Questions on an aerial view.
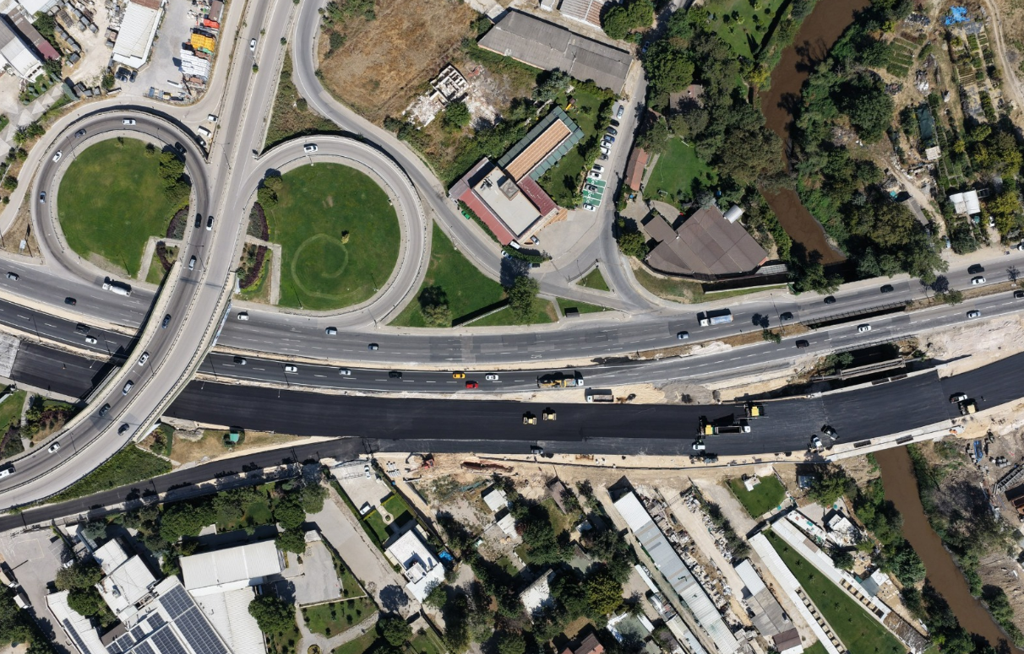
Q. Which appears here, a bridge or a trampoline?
bridge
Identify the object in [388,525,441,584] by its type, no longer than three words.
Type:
house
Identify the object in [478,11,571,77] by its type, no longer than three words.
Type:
shed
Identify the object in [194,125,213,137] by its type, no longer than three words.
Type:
vehicle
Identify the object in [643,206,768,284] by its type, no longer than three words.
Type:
building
